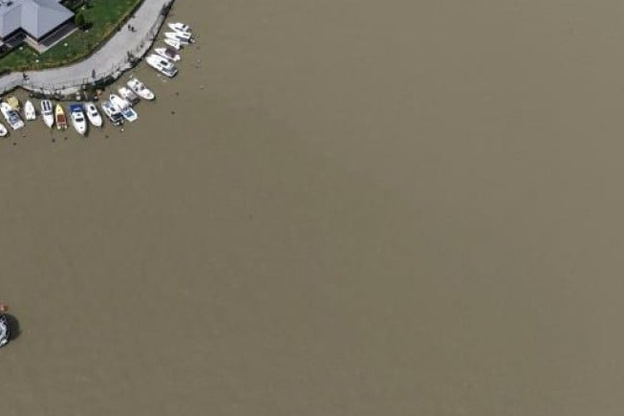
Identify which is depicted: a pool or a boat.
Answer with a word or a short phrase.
boat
